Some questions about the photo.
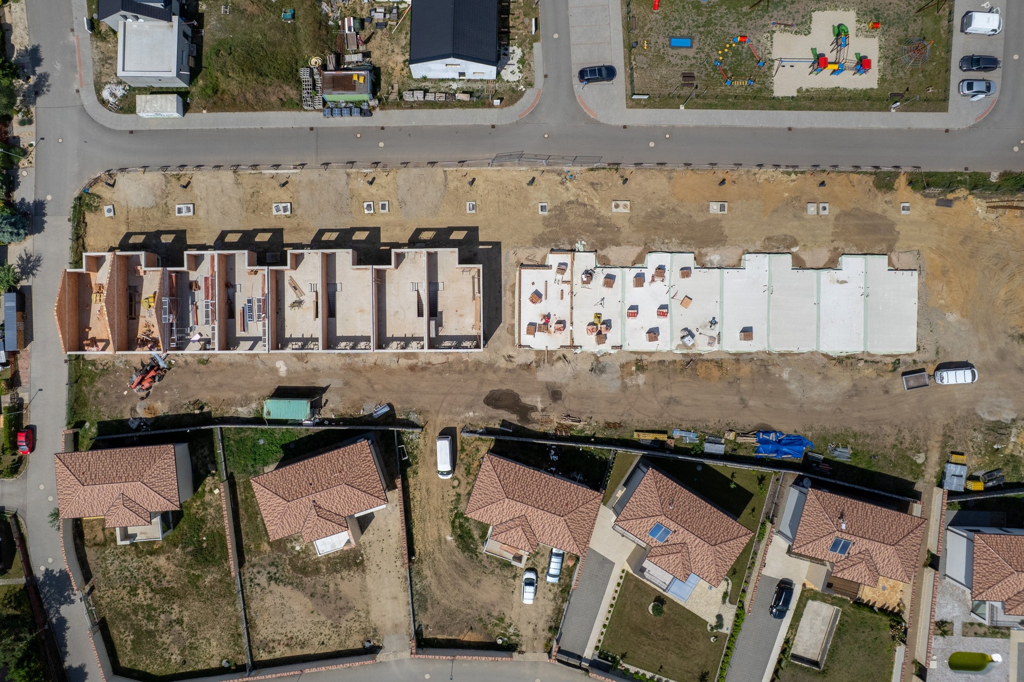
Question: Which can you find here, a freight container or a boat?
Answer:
freight container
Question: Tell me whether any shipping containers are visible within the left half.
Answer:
Yes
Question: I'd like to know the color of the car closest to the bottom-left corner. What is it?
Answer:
red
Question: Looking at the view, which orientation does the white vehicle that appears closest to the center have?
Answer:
up and down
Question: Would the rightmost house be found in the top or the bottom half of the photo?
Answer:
bottom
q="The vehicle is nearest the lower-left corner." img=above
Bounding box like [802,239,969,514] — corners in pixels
[16,426,36,456]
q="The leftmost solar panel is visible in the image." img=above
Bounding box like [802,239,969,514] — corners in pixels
[648,523,672,543]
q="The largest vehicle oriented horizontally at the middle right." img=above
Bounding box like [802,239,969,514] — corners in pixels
[930,364,975,383]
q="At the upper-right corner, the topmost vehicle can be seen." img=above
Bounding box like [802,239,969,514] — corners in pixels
[957,8,999,35]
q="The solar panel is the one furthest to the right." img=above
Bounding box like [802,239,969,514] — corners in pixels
[829,537,852,556]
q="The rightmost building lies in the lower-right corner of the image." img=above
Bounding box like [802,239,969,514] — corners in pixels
[947,526,1024,627]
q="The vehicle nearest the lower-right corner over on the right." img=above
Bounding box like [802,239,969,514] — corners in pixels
[769,577,794,617]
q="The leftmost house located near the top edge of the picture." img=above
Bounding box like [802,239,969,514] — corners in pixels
[98,0,190,86]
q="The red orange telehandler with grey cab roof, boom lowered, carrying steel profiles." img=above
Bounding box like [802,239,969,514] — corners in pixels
[129,354,170,395]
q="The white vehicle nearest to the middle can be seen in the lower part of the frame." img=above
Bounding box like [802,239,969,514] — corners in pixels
[435,434,455,479]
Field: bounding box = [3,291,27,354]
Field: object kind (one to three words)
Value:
shed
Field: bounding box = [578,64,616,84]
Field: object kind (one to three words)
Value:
car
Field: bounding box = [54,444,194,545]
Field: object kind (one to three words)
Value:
house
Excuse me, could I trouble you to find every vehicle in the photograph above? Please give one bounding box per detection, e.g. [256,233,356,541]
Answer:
[957,8,999,35]
[930,364,975,383]
[129,354,170,395]
[578,64,616,84]
[435,434,455,479]
[545,545,563,581]
[956,77,995,96]
[16,426,36,456]
[521,567,538,604]
[956,54,996,72]
[769,577,794,617]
